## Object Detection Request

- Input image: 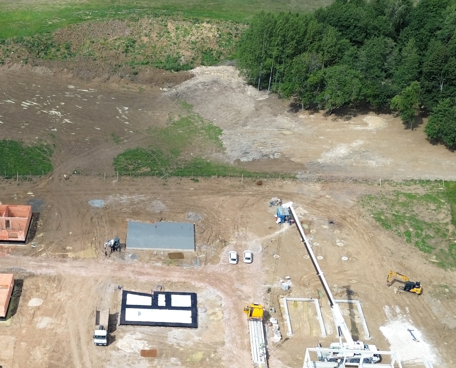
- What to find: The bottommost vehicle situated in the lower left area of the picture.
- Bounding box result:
[92,311,109,344]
